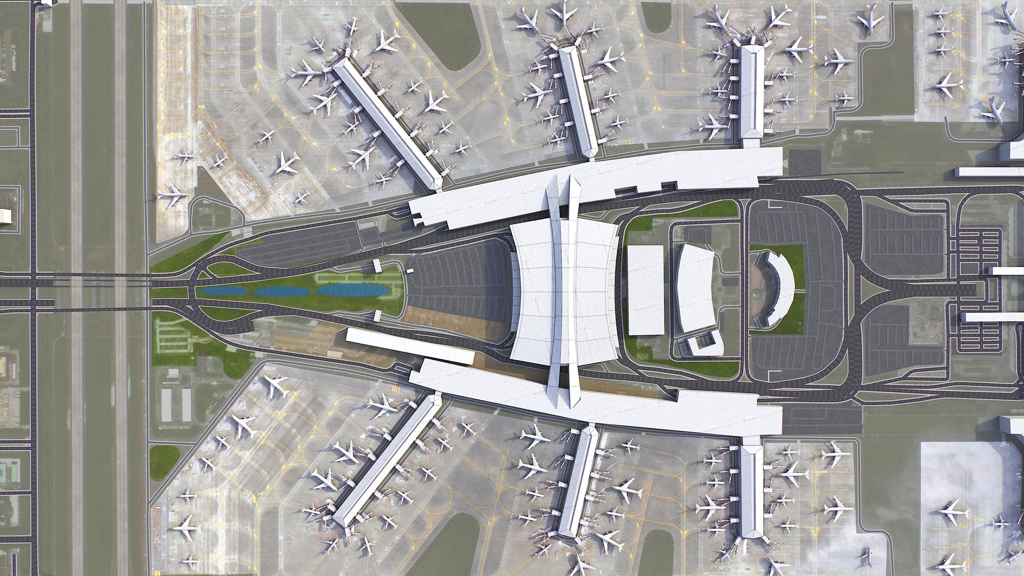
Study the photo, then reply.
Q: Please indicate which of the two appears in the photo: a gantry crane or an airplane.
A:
airplane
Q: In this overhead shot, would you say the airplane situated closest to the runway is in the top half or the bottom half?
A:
top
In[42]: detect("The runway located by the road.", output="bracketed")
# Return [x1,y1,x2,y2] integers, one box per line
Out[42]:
[71,0,157,576]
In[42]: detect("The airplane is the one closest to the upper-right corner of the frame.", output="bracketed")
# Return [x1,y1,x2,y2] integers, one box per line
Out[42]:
[996,0,1020,30]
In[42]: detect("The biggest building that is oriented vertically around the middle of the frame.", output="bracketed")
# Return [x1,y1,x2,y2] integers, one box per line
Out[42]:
[510,175,619,409]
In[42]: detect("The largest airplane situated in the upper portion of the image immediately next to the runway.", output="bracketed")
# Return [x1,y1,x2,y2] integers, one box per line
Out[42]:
[159,181,190,208]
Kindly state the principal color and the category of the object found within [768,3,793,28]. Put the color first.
white airplane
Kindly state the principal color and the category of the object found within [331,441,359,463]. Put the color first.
white airplane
